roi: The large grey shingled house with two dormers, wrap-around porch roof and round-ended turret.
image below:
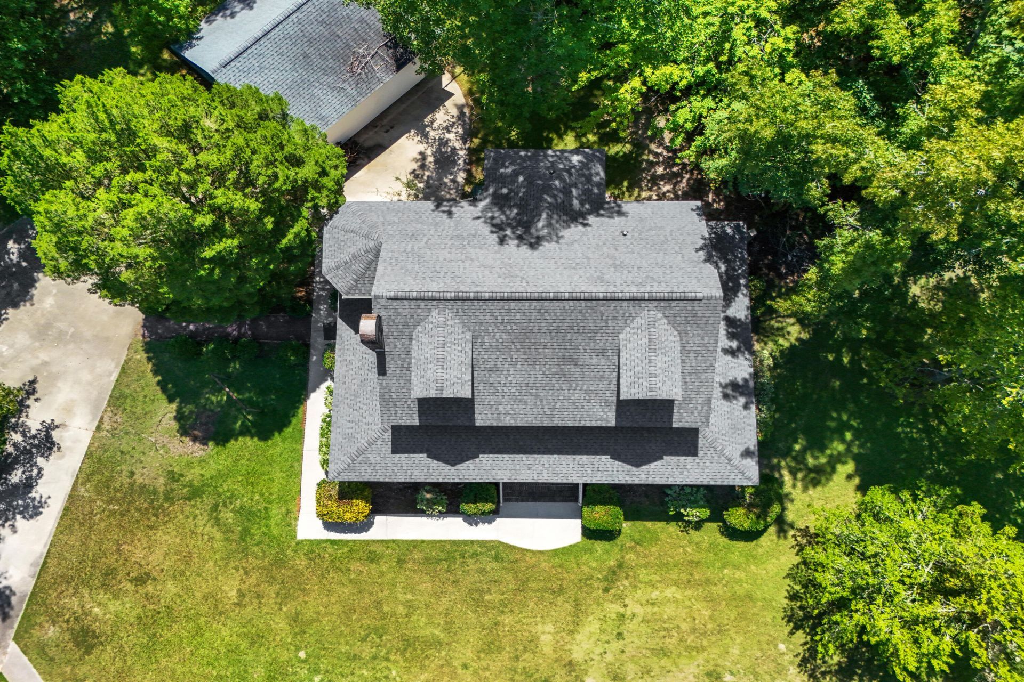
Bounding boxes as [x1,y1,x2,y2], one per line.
[320,147,761,488]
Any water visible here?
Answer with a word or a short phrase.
No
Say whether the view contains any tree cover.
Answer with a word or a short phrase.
Yes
